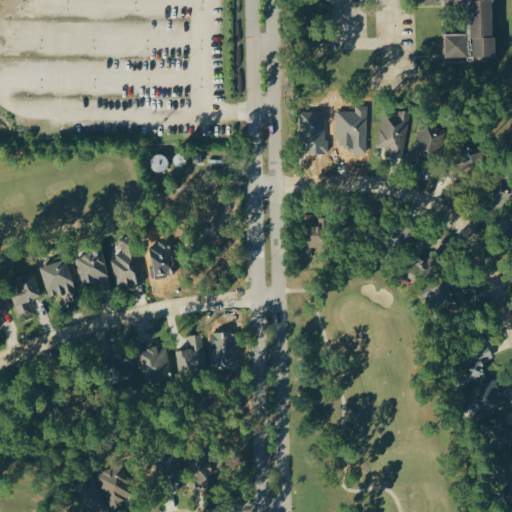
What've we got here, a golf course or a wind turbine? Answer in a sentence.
The image shows a golf course.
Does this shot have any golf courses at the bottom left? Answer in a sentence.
No, there is no golf course at the bottom left.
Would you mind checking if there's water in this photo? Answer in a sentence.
No, there's no water in this view.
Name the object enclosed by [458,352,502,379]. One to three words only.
house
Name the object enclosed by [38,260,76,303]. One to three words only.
house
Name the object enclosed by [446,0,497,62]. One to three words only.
building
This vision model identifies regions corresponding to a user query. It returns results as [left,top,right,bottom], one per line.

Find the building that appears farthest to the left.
[10,273,46,322]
